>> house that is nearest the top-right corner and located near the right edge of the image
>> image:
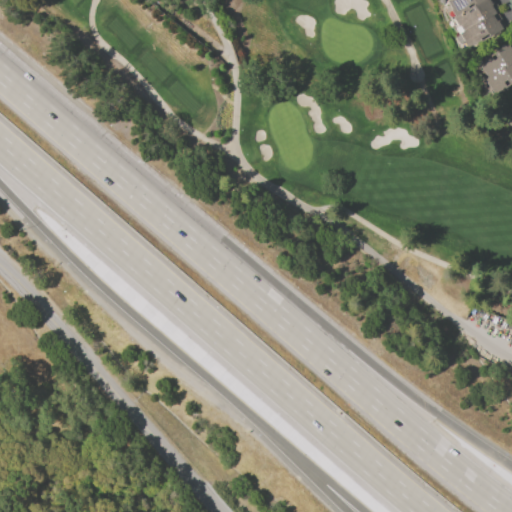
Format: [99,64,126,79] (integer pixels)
[456,0,506,46]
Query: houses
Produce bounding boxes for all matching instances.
[456,0,506,46]
[484,42,512,92]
